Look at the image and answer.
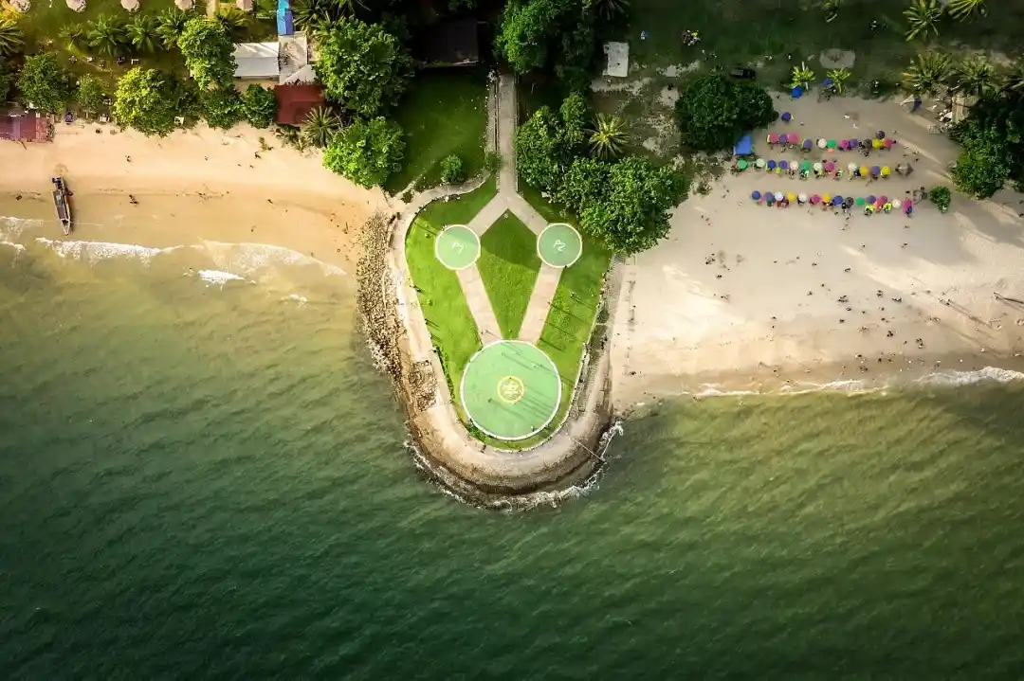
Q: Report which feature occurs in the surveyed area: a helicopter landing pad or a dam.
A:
helicopter landing pad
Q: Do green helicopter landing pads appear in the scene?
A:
Yes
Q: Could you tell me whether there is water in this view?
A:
Yes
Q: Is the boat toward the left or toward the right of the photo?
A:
left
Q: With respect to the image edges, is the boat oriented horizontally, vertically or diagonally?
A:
vertically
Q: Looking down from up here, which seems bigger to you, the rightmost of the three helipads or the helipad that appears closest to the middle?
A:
the helipad that appears closest to the middle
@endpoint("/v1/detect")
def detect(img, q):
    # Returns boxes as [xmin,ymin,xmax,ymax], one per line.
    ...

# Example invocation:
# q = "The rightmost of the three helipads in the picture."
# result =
[537,222,582,267]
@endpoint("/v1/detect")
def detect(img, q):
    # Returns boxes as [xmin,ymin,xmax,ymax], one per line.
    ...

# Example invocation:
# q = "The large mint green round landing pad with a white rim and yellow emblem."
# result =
[461,340,561,441]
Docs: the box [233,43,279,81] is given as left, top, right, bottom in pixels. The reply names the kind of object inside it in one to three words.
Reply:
house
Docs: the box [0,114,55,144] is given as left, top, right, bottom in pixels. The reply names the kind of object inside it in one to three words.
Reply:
building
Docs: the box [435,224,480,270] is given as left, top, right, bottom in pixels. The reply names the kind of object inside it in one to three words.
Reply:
helipad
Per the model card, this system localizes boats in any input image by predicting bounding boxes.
[54,178,77,233]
